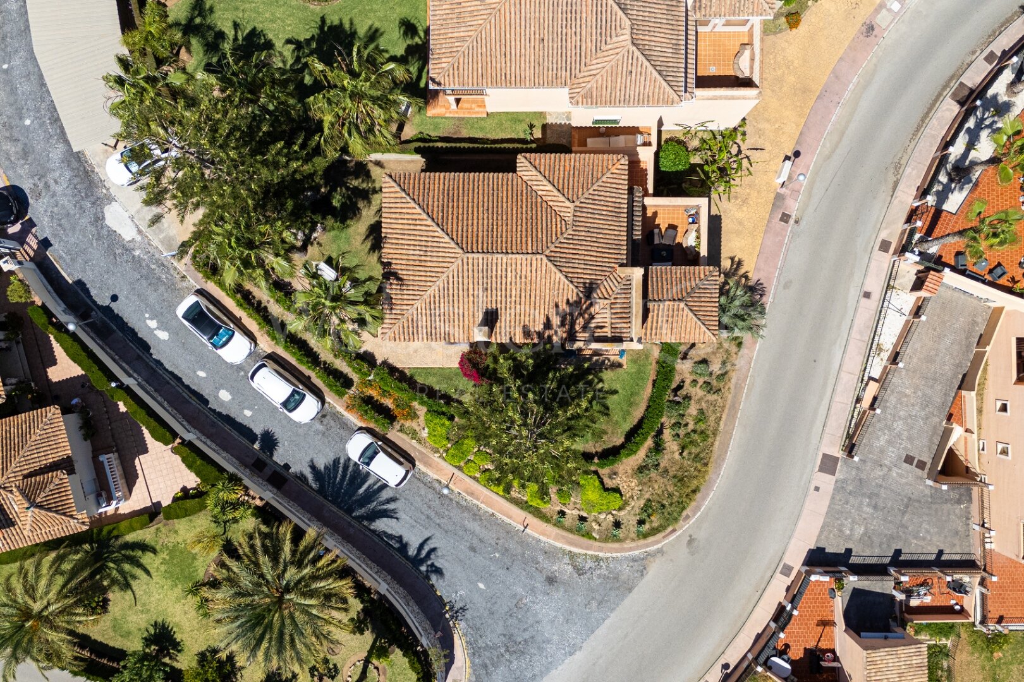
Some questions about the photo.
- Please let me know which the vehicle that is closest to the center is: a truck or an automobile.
automobile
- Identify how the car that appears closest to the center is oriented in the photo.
on a diagonal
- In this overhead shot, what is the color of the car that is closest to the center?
white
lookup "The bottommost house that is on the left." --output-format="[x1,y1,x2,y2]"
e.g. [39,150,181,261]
[0,404,137,550]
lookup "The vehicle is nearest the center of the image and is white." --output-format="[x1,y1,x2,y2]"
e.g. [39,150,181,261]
[344,427,418,491]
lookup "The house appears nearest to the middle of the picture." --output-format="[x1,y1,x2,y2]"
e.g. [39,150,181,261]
[379,150,722,355]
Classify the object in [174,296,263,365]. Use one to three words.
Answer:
car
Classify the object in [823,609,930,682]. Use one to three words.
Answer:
building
